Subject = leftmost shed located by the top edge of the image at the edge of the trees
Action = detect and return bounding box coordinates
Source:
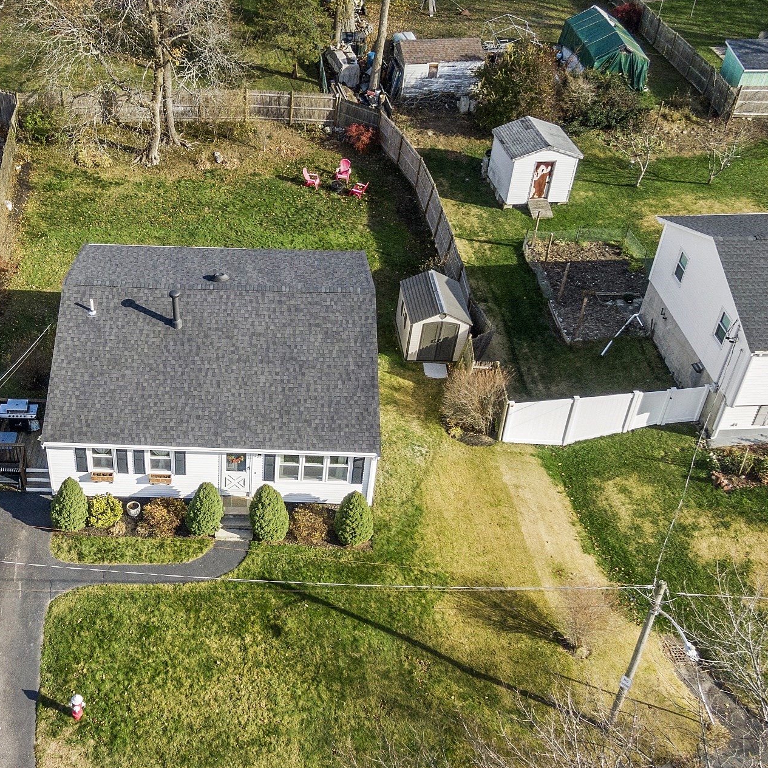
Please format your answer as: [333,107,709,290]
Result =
[392,37,489,97]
